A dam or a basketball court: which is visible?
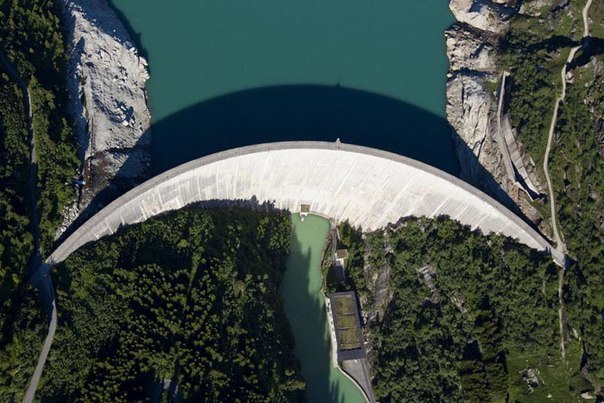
dam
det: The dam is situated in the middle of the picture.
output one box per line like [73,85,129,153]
[40,139,552,271]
